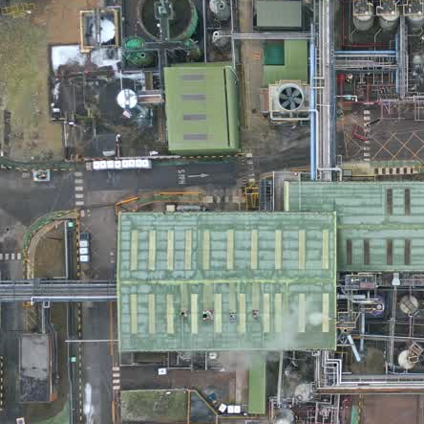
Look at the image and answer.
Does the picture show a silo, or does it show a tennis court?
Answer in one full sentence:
It is a silo that can be seen here.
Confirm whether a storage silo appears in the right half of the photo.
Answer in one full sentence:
Yes, there is a storage silo in the right half of the photo.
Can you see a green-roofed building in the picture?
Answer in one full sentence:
Yes, a green-roofed building appears in the view.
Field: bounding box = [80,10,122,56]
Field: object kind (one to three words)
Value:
storage tank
